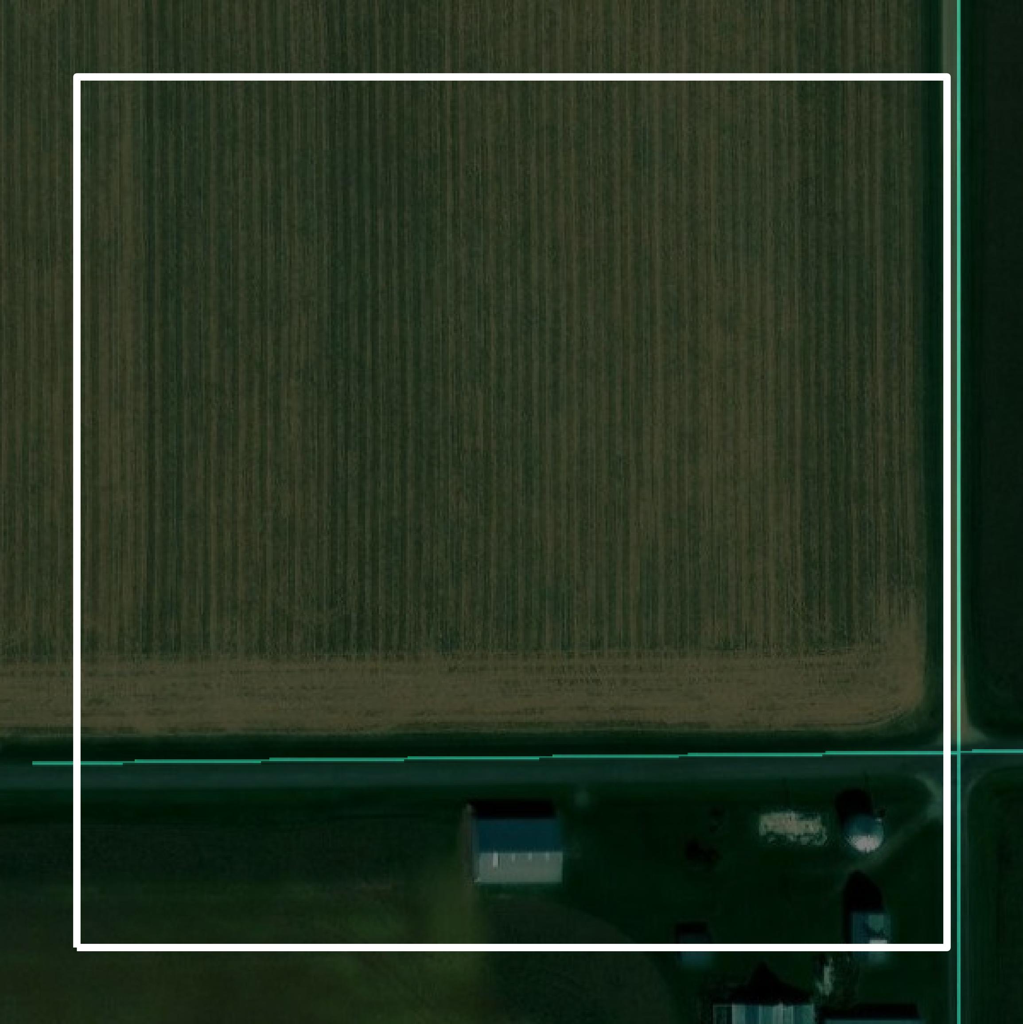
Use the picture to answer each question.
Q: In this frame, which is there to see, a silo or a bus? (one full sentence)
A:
There is a silo in the scene.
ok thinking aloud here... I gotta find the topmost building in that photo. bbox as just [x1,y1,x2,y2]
[472,818,563,883]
